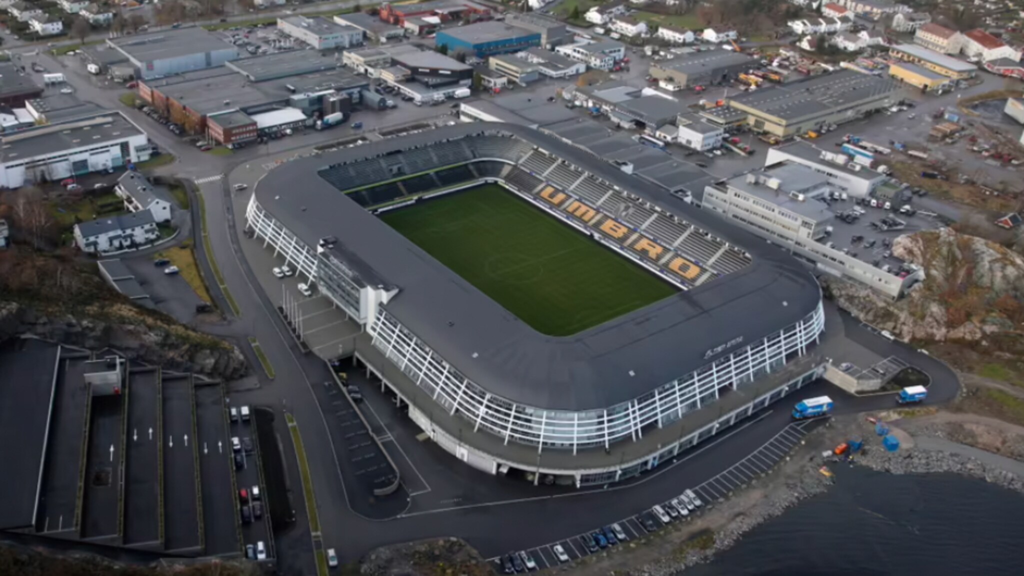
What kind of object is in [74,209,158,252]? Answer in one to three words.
house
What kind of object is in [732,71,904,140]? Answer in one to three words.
building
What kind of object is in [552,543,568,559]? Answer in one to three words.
car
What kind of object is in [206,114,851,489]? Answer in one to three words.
stadium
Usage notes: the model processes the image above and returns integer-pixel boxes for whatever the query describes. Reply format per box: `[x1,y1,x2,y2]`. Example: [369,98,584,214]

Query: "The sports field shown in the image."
[370,184,679,336]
